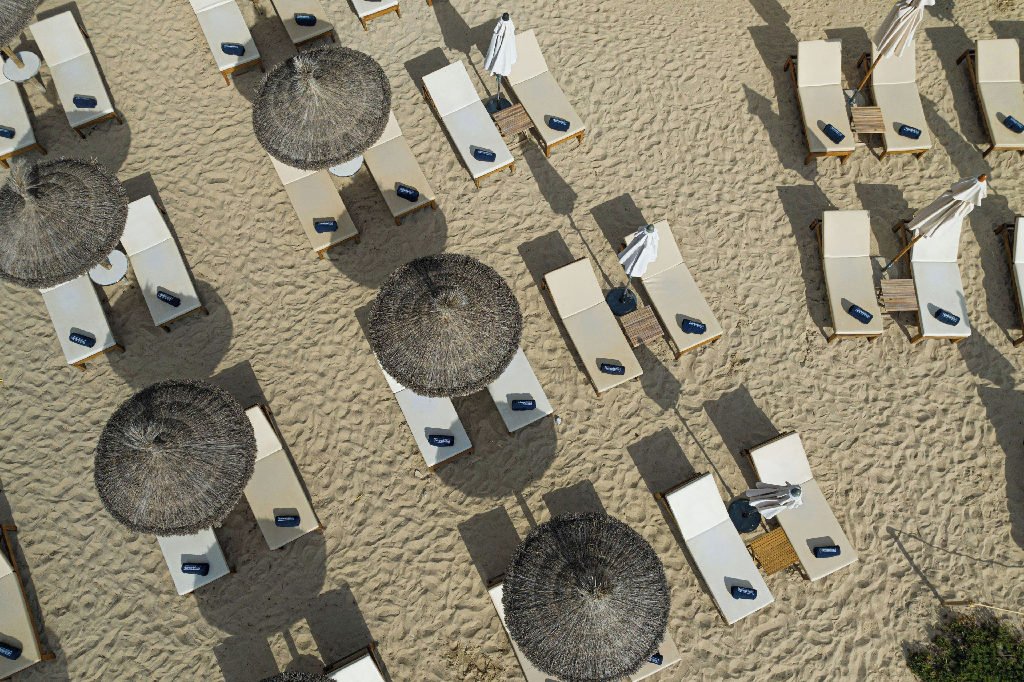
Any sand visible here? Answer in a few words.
Yes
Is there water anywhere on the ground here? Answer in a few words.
No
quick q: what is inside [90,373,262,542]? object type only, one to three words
umbrella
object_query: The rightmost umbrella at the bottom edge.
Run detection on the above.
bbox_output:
[497,507,675,682]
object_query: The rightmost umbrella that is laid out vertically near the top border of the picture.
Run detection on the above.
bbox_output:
[483,12,517,101]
